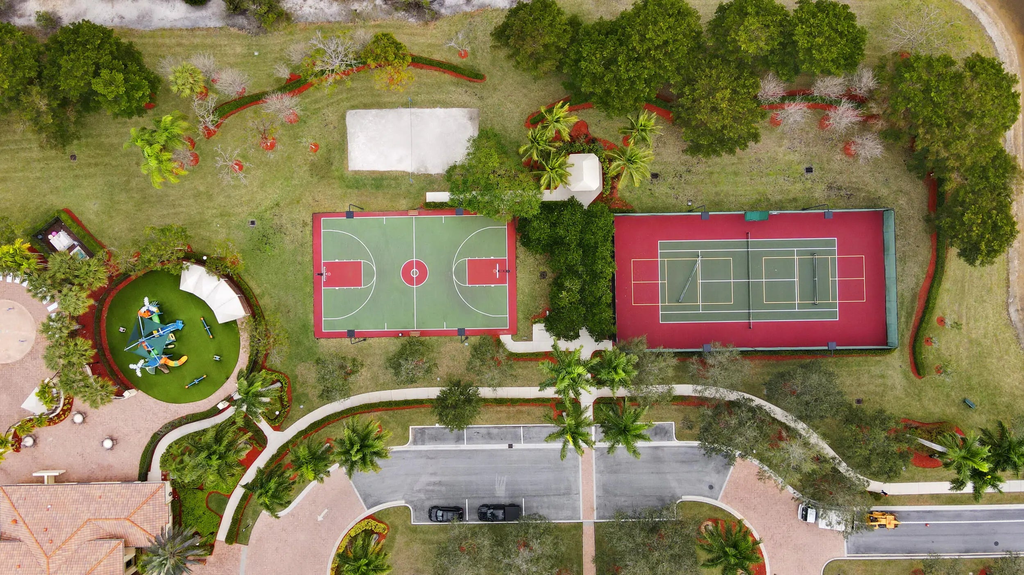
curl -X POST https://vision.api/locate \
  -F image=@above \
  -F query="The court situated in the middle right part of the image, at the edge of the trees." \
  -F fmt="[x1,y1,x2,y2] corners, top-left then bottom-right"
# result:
[612,211,888,349]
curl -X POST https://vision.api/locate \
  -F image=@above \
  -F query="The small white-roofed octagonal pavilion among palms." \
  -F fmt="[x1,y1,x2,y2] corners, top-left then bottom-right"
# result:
[566,153,599,192]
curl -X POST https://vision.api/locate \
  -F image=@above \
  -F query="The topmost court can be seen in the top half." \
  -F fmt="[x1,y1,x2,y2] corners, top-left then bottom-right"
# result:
[347,108,478,174]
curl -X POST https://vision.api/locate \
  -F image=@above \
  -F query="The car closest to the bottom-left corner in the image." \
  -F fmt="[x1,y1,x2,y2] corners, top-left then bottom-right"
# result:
[429,507,464,525]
